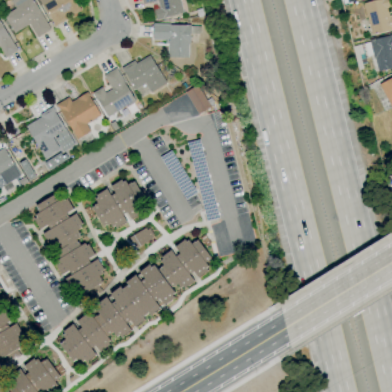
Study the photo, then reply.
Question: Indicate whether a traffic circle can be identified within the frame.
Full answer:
No, the frame has no traffic circle in it.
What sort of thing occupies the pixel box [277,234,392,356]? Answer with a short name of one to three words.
overpass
